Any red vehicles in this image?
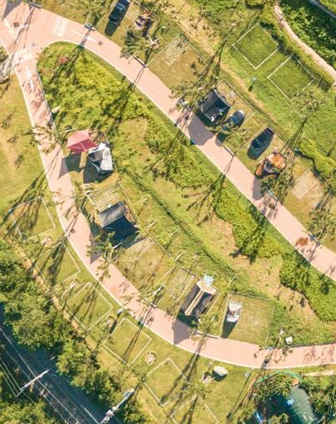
No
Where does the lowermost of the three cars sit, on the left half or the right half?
right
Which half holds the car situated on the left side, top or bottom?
top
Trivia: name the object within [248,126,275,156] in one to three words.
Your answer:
car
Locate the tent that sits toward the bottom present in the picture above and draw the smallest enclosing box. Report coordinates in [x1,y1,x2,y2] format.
[181,280,219,317]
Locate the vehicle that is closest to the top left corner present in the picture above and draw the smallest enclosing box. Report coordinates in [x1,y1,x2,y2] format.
[107,0,132,25]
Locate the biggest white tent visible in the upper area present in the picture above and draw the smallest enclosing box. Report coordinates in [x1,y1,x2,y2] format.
[88,144,113,174]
